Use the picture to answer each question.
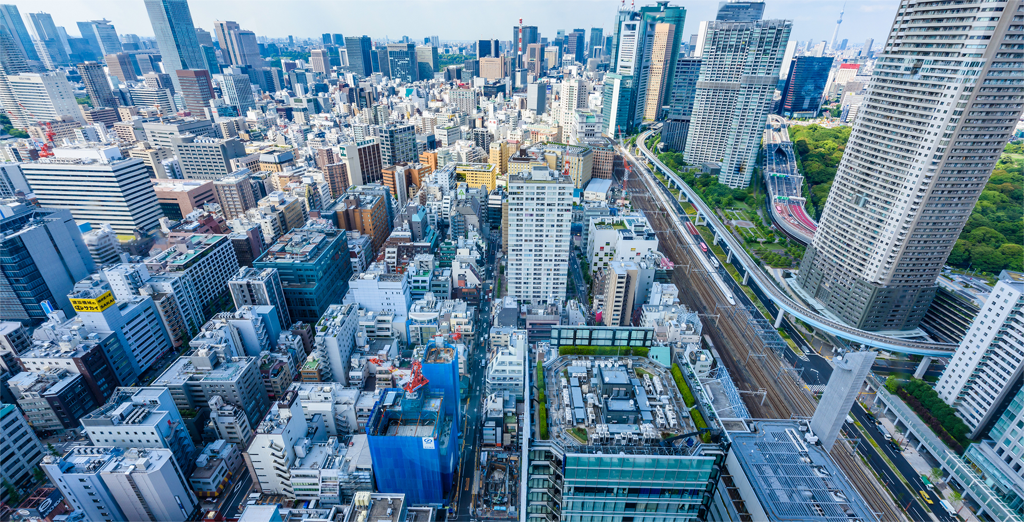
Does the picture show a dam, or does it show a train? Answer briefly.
train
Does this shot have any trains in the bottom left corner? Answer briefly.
No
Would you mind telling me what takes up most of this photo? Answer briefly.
buildings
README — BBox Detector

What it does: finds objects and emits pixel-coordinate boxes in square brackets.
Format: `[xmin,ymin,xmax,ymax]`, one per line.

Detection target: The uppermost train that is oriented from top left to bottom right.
[633,156,736,305]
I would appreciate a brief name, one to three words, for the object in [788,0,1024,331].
building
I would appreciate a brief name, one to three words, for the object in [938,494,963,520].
truck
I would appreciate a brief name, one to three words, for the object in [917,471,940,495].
truck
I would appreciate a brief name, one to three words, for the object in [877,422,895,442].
vehicle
